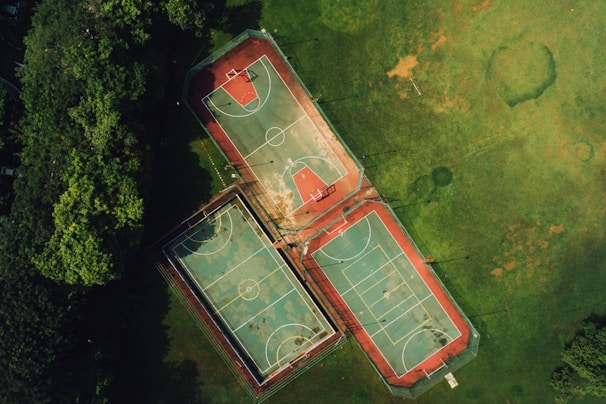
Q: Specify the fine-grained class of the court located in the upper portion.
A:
basketball court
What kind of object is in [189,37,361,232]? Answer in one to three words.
basketball court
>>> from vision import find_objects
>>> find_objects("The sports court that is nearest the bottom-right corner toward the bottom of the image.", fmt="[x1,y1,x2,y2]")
[302,200,470,386]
